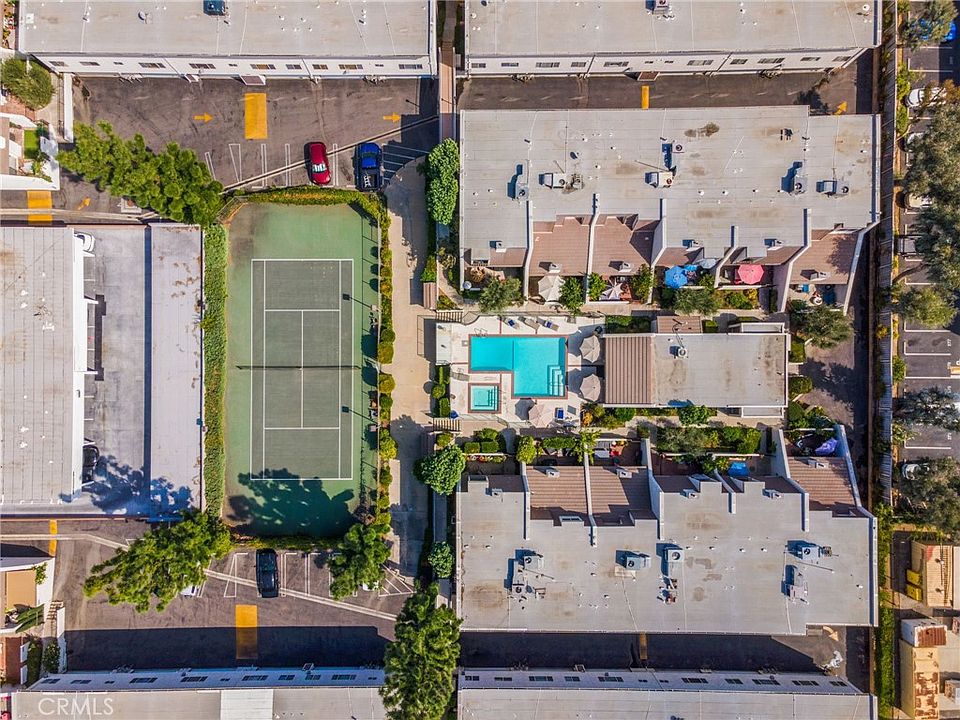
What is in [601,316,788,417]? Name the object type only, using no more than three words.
building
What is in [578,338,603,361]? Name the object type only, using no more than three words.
umbrella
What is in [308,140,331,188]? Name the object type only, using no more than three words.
car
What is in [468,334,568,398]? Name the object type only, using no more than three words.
swimming pool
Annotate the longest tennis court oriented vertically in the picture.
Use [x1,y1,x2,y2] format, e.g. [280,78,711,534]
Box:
[227,206,382,540]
